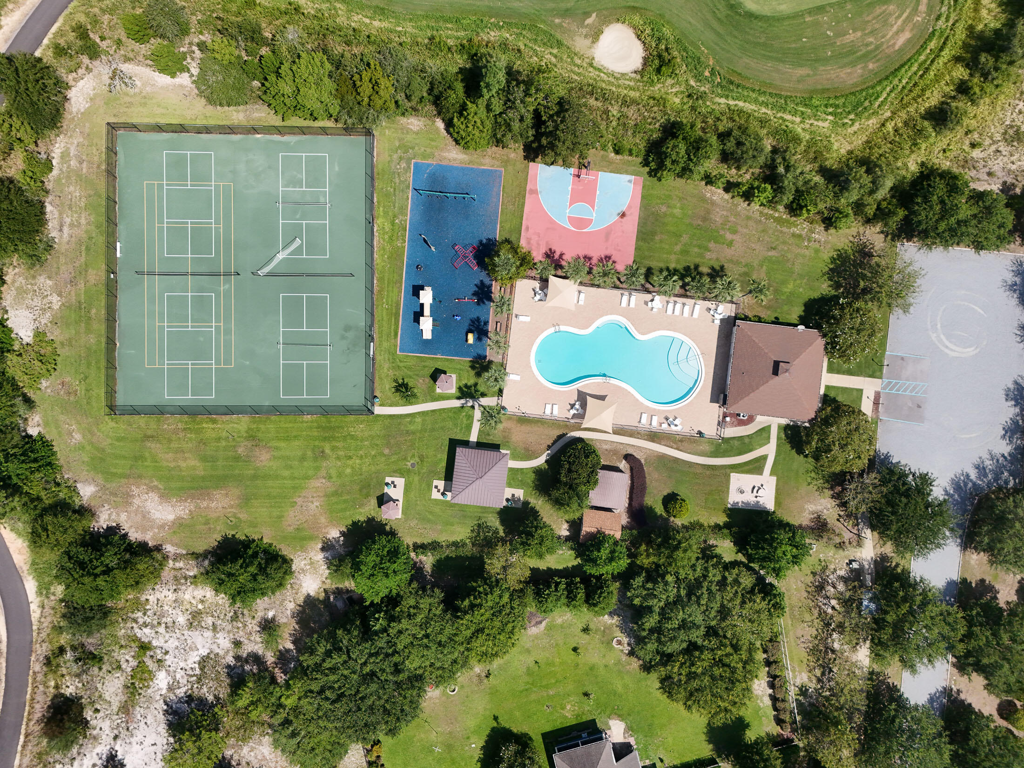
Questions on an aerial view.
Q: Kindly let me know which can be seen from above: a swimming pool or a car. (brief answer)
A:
swimming pool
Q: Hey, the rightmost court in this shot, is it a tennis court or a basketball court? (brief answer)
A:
basketball court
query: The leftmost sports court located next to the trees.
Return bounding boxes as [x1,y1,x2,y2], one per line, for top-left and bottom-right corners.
[117,132,375,414]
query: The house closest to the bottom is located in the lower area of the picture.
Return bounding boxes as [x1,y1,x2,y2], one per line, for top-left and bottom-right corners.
[551,721,645,768]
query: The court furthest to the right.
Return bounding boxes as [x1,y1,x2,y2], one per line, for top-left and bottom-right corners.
[518,162,643,272]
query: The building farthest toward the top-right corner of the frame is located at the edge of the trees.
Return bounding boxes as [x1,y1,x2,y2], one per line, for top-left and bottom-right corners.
[723,320,826,421]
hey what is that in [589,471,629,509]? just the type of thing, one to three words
shed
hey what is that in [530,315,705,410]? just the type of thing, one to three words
swimming pool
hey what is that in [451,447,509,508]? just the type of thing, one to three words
building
